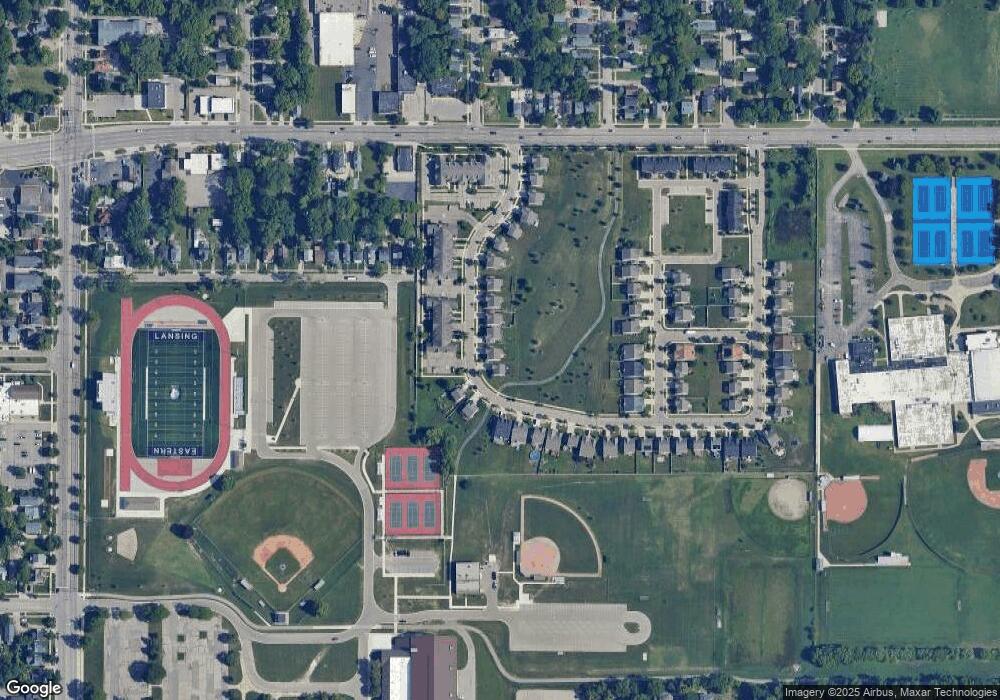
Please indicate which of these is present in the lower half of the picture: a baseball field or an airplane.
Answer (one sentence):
The one visible in the lower half of the picture is a baseball field.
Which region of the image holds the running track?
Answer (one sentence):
The running track appears toward the left of the photo.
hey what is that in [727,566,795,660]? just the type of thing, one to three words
soccer field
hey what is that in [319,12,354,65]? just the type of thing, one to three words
building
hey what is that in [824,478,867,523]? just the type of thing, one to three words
baseball field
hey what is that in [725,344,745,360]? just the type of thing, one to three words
house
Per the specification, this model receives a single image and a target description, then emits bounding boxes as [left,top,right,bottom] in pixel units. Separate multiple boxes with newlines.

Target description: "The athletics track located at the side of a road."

[121,295,231,491]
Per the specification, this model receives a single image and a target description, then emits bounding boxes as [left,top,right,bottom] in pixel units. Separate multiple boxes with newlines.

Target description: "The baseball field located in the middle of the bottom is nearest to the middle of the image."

[521,495,602,578]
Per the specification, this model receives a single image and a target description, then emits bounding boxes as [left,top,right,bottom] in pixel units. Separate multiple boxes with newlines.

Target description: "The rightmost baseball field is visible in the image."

[968,459,1000,509]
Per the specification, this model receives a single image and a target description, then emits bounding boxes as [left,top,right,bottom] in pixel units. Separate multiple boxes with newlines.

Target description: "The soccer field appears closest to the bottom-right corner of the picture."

[826,568,960,644]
